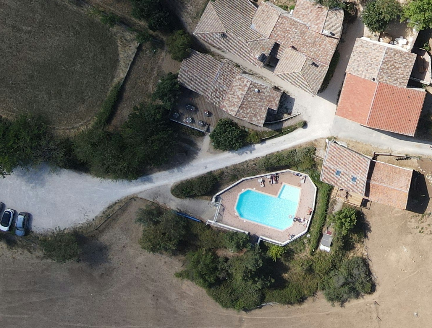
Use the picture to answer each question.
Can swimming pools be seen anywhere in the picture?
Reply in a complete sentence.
Yes, there is a swimming pool in the image.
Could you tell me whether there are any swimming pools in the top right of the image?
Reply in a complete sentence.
No, I see no swimming pool in the top right of the image.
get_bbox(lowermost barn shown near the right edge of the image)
[320,135,414,210]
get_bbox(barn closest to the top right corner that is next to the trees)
[335,38,427,139]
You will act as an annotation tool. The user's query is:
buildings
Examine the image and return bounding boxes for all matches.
[193,0,348,97]
[335,38,427,139]
[177,47,288,126]
[320,225,334,249]
[320,135,414,210]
